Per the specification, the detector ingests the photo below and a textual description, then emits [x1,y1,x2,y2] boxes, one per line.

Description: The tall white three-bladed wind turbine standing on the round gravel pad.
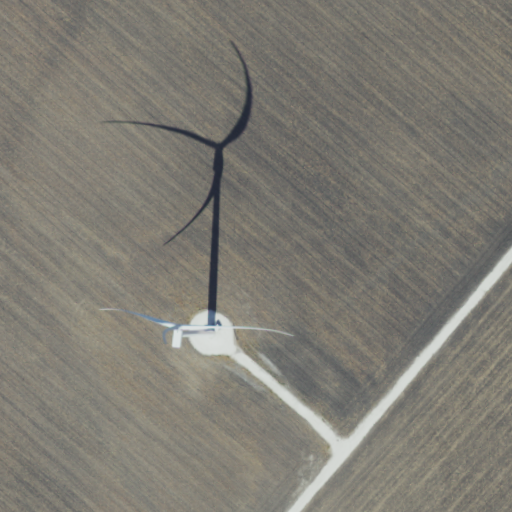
[83,308,292,348]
